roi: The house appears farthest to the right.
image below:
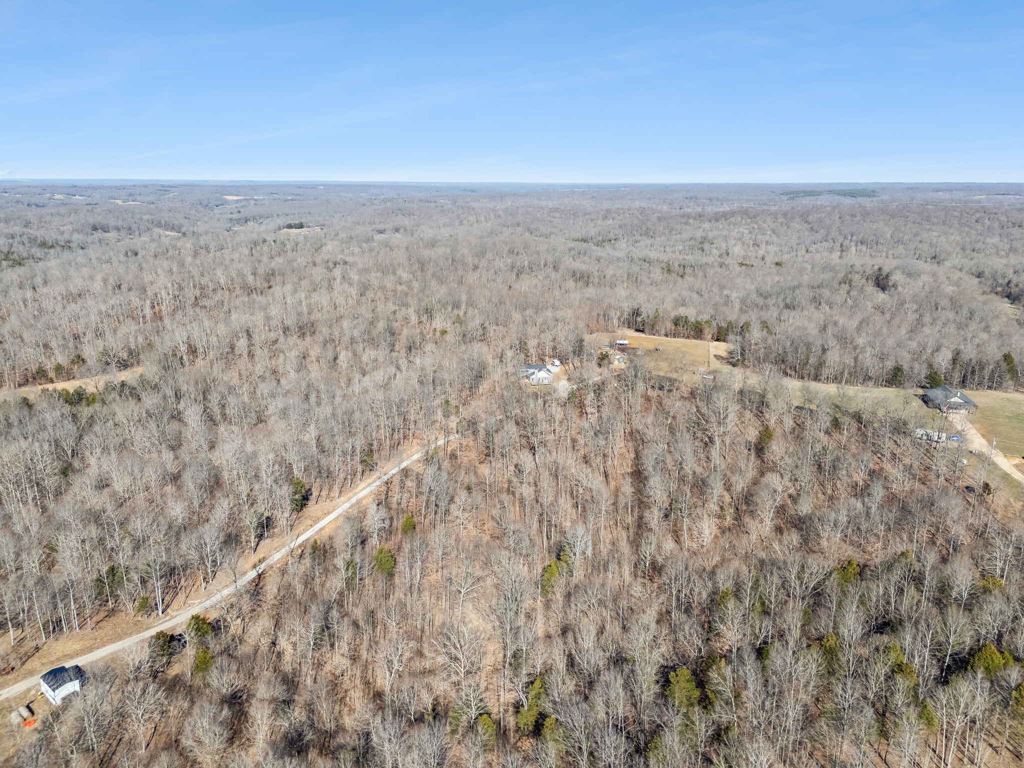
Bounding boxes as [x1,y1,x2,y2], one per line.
[922,386,980,416]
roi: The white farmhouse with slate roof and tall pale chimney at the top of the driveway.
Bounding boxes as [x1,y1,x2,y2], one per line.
[513,362,554,386]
